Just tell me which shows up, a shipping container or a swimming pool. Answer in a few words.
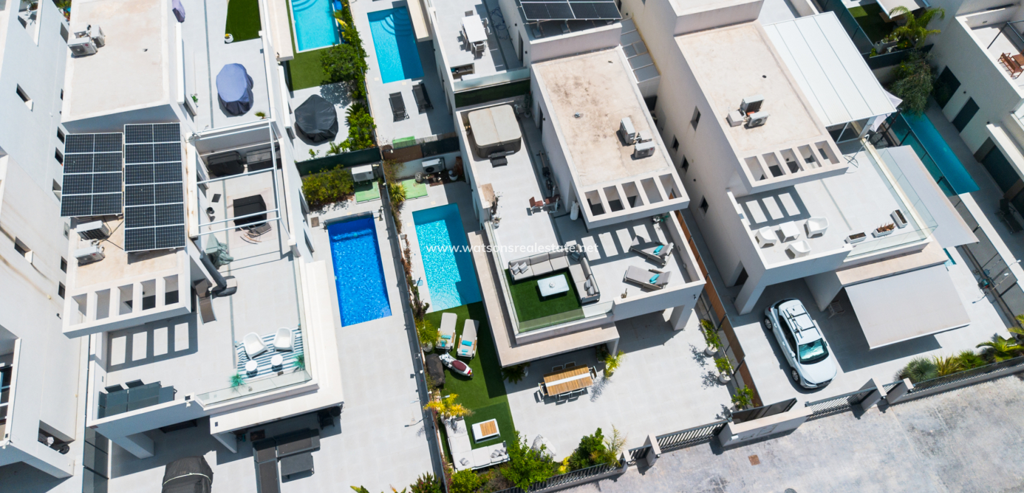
swimming pool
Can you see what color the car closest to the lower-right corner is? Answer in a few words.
white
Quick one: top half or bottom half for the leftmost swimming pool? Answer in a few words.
top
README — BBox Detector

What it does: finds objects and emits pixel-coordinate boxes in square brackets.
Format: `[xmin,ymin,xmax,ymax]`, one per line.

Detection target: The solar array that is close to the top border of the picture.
[523,0,619,33]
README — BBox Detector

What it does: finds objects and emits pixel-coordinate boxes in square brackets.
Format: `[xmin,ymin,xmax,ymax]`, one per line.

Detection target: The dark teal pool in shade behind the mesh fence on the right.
[883,90,979,196]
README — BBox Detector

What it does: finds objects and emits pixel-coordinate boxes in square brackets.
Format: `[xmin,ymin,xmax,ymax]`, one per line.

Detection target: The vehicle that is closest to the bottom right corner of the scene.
[768,297,835,388]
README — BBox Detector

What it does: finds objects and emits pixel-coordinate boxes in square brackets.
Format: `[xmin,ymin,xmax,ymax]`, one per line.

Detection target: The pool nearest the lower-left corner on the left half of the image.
[326,214,392,327]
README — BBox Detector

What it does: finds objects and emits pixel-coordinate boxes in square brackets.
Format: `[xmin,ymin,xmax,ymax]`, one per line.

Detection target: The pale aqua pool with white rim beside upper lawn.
[288,0,342,53]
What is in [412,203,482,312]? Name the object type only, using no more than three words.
swimming pool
